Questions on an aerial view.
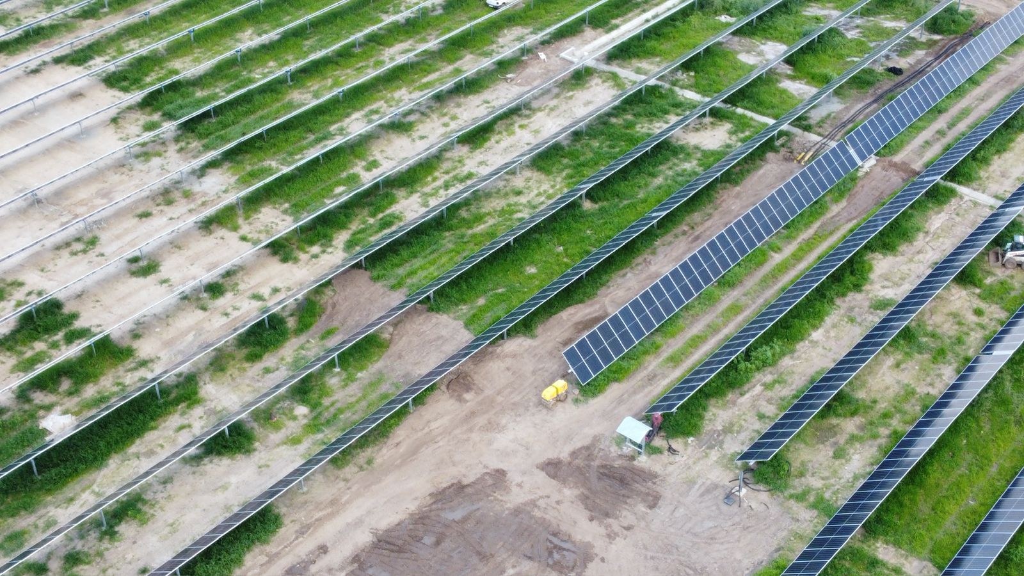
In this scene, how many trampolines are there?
none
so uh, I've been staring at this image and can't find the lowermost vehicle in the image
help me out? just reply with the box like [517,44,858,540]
[992,238,1024,271]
